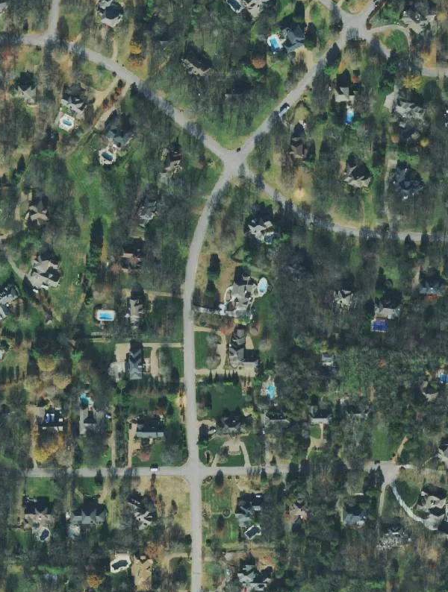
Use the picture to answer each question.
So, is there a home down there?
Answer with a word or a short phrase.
Yes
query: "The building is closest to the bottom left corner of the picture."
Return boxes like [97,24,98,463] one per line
[22,502,50,523]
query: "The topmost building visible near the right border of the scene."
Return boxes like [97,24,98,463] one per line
[401,6,436,29]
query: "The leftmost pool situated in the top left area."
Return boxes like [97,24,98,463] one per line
[60,114,75,129]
